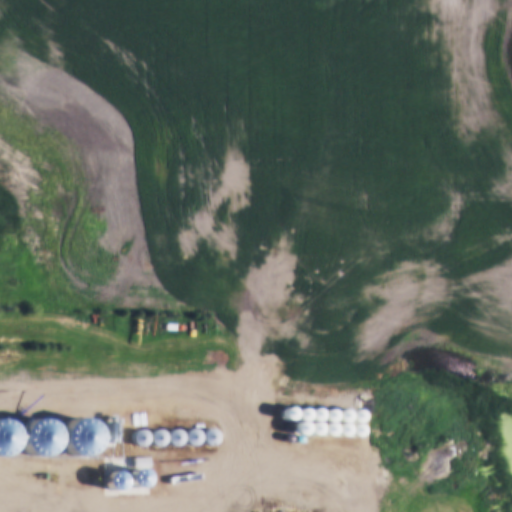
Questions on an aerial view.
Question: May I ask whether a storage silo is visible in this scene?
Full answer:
Yes, the frame does contain a storage silo.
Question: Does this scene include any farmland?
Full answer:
Yes, farmland can be seen from above here.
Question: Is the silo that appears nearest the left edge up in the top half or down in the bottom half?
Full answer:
The silo that appears nearest the left edge is in the bottom half of the image.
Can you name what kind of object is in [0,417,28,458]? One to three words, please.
silo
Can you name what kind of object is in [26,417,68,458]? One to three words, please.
silo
